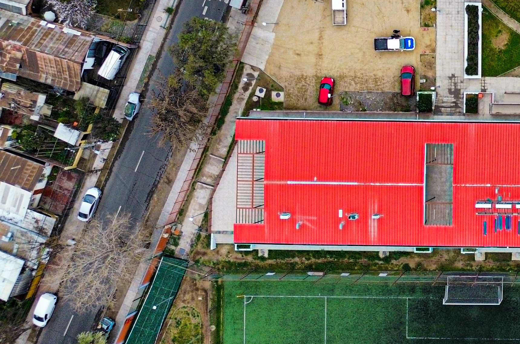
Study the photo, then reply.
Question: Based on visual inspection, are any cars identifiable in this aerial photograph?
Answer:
Yes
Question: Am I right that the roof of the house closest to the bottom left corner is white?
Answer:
Yes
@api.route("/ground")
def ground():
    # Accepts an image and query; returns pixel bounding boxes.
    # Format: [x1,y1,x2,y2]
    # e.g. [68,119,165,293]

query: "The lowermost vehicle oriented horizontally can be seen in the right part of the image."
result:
[373,35,416,52]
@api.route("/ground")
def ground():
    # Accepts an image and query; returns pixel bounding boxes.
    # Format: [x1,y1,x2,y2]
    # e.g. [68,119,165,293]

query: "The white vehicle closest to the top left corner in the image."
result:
[96,43,130,83]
